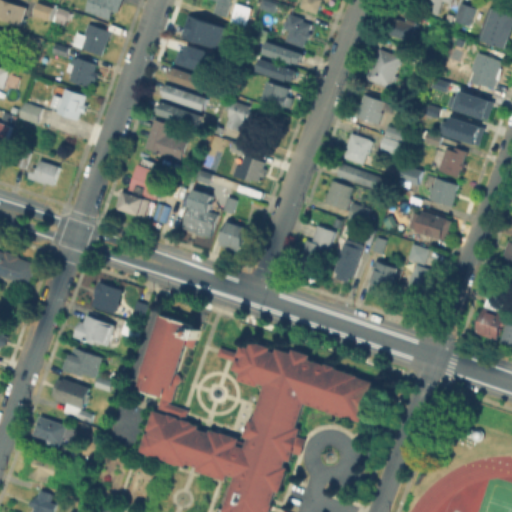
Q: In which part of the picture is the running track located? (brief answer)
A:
bottom right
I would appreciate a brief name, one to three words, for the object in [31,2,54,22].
building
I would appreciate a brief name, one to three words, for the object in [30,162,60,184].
house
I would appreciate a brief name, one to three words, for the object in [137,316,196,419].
building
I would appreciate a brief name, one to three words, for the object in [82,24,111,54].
house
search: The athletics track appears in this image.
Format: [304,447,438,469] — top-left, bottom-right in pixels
[412,456,512,512]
